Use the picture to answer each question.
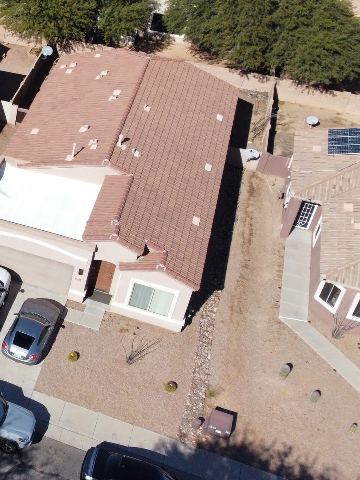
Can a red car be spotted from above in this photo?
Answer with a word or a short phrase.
No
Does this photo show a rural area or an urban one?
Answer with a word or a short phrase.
urban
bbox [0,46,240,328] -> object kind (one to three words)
house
